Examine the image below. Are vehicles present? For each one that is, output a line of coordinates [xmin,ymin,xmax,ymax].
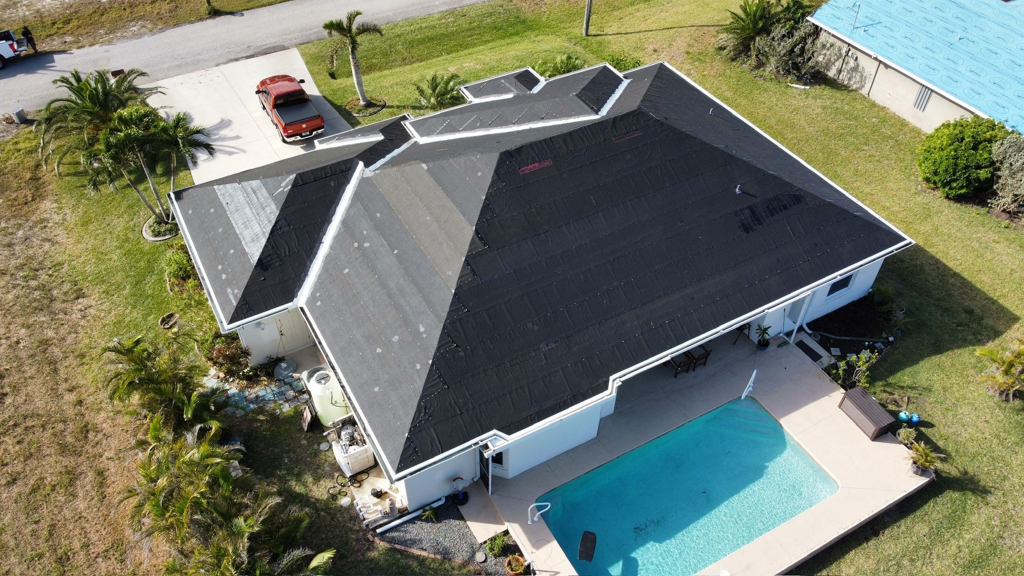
[0,27,27,69]
[248,72,325,143]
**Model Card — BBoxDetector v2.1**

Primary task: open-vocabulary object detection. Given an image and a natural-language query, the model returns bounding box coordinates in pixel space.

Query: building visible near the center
[164,63,913,511]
